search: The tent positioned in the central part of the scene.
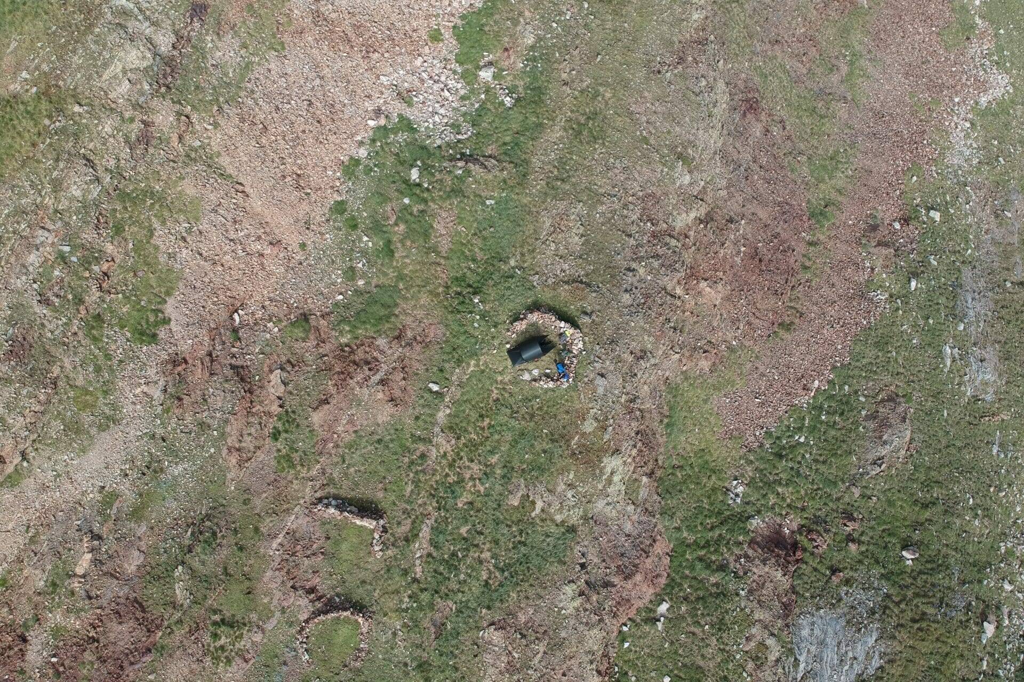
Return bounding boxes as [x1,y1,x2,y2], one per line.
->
[507,335,555,367]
